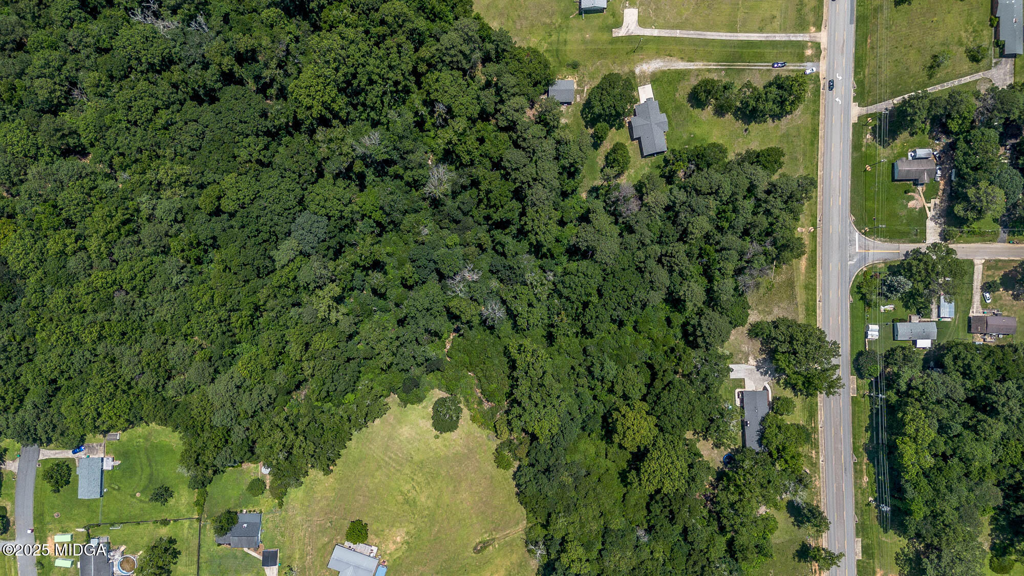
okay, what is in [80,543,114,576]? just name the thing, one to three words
house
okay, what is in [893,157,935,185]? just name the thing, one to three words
house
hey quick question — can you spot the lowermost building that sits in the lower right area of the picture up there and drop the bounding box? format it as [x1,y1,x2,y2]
[743,389,772,453]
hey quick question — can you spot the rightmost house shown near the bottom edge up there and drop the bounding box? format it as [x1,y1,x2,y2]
[330,542,380,576]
